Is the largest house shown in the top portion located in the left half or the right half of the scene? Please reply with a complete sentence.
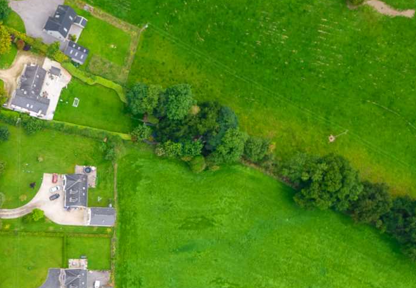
You can find the largest house shown in the top portion on the left side of the picture.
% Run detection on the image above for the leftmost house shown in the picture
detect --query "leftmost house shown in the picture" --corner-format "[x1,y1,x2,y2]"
[9,65,50,119]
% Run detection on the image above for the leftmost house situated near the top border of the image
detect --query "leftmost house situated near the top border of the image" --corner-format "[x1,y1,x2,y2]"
[43,4,77,42]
